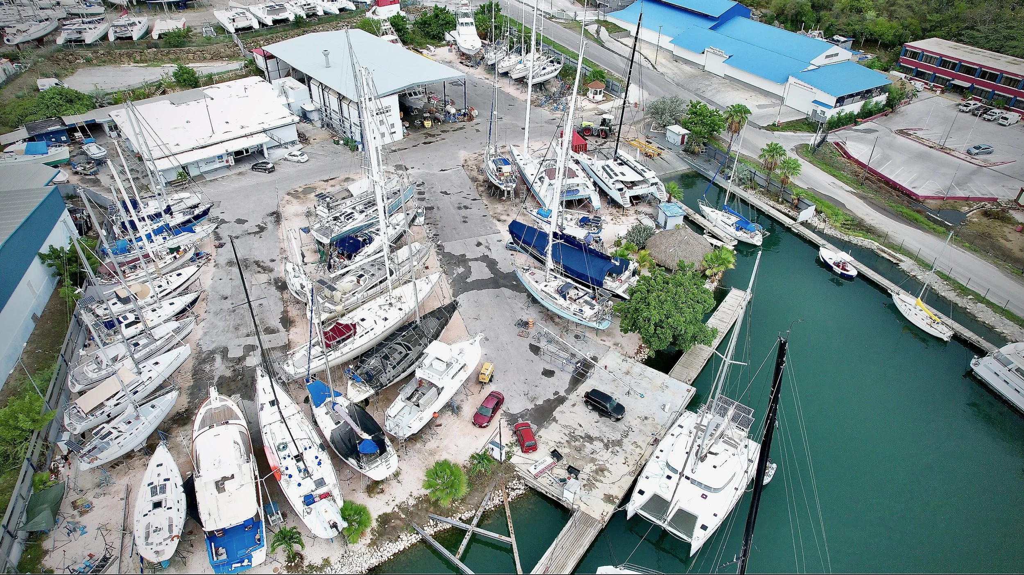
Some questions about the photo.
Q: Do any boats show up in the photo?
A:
Yes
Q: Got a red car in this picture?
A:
Yes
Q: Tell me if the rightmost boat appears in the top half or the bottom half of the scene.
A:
bottom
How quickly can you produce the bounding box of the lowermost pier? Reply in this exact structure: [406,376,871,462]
[528,509,607,575]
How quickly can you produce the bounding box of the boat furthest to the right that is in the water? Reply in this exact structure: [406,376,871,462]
[970,357,1024,423]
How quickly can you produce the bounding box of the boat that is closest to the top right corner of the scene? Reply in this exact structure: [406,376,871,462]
[832,31,850,46]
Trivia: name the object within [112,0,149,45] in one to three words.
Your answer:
boat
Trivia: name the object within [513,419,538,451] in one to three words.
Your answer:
car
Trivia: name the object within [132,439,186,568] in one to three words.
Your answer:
boat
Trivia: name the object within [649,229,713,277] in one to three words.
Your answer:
shed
